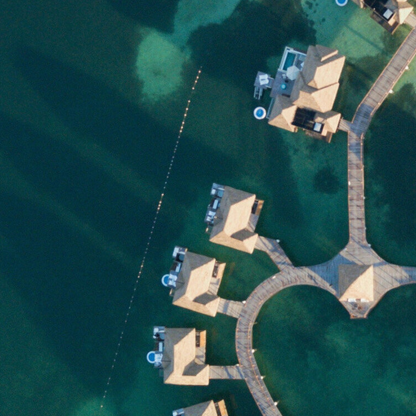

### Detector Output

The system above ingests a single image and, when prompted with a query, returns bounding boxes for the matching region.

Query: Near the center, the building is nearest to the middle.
[203,181,266,253]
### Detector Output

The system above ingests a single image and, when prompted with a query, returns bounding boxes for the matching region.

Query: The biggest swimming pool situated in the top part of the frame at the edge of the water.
[278,44,307,73]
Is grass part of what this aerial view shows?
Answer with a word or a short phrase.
No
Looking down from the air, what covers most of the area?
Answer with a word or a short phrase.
water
